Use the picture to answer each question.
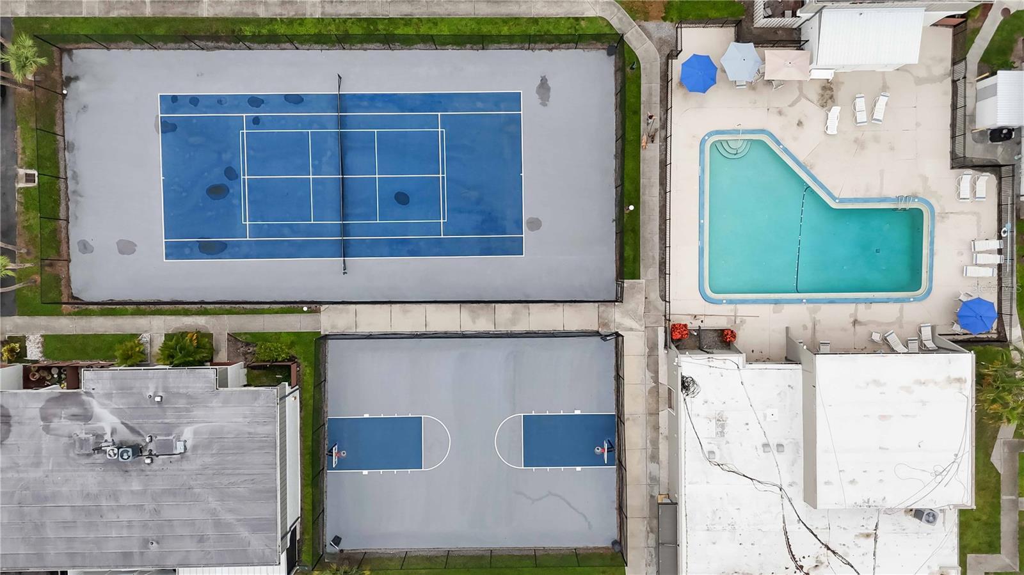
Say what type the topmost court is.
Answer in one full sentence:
What you see as the topmost court is a tennis court.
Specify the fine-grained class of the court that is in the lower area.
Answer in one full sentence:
I'd identify the court that is in the lower area as a basketball court.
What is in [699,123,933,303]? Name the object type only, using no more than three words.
swimming pool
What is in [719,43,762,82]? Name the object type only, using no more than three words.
umbrella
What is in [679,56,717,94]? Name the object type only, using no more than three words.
umbrella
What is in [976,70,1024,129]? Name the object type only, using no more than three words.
shed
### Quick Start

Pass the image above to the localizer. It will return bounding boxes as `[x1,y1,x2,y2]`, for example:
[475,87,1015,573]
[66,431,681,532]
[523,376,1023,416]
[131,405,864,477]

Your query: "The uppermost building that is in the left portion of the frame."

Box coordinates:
[0,359,306,571]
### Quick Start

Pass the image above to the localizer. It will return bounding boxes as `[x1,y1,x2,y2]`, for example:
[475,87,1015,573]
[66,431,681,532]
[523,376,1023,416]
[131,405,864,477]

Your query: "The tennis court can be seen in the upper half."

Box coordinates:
[62,50,619,299]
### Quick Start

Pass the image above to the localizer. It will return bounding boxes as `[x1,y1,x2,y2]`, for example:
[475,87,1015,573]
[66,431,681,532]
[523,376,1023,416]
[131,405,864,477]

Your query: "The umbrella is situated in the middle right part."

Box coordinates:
[954,295,994,335]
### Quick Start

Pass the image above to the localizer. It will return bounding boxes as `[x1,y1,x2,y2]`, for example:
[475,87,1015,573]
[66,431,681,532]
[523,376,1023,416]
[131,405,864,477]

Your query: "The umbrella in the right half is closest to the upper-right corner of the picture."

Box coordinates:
[763,51,808,81]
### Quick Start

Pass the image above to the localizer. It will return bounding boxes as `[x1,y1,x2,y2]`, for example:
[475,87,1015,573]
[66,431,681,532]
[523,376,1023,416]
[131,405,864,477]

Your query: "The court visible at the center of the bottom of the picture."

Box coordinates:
[325,338,619,562]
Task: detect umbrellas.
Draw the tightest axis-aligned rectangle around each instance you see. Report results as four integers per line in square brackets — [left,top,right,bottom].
[763,51,808,81]
[719,43,762,82]
[954,295,994,335]
[679,56,717,94]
